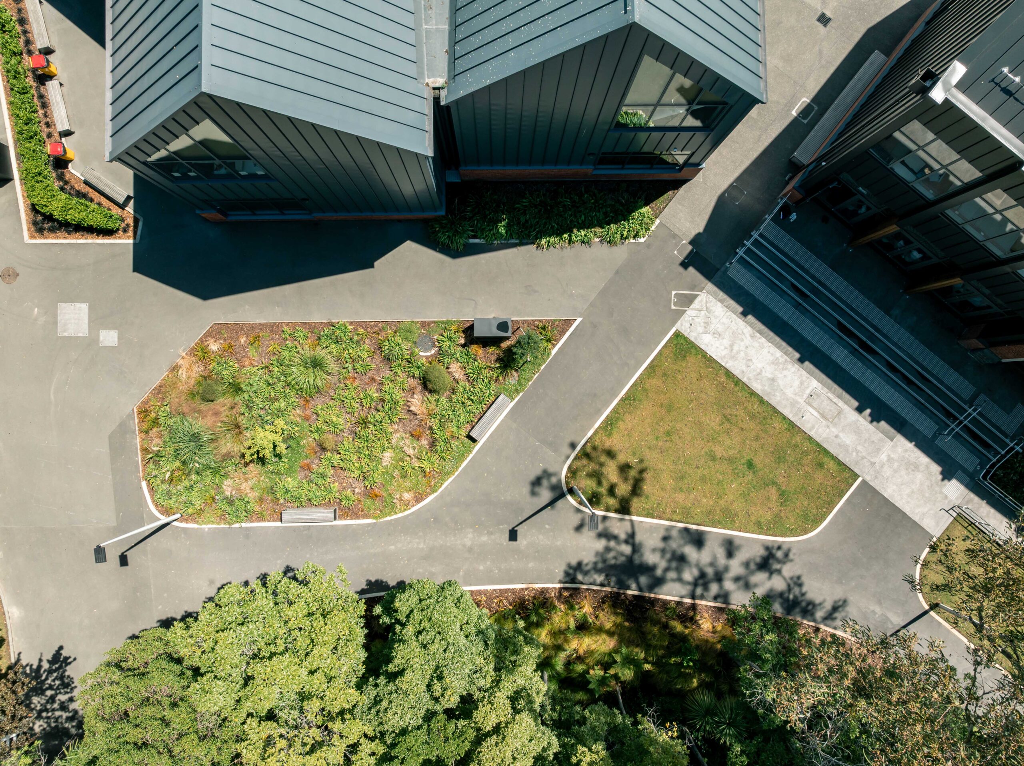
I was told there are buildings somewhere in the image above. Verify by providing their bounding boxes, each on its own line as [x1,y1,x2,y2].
[103,0,448,221]
[782,0,1024,347]
[444,0,763,180]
